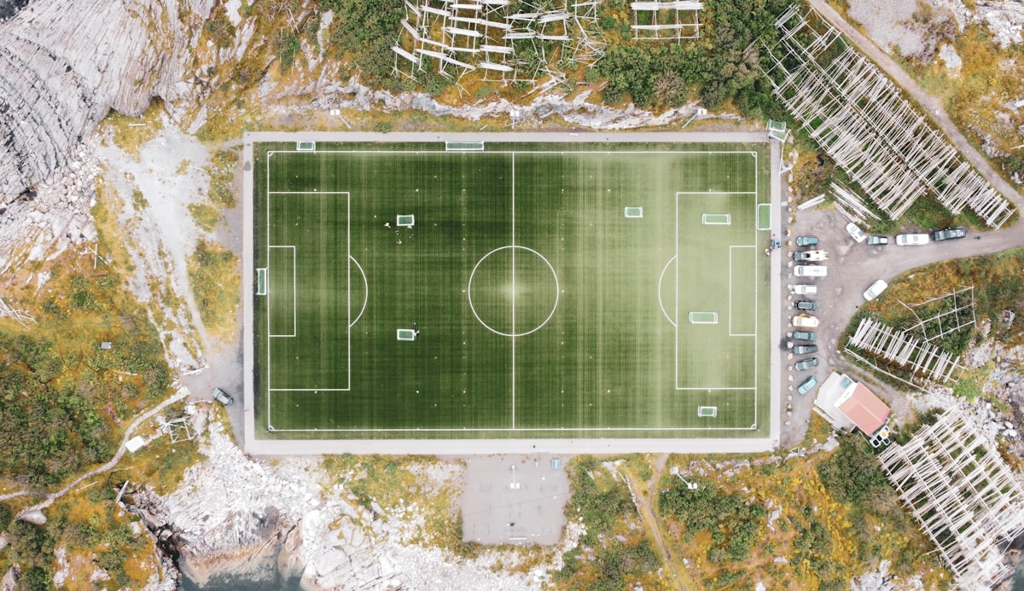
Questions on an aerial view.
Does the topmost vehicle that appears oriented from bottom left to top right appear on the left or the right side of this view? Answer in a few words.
right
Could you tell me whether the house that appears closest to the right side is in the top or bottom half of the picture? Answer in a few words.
bottom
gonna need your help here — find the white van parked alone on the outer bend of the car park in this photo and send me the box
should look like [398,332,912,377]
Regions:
[864,279,892,301]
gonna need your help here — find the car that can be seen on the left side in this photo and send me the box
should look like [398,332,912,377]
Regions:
[210,388,233,407]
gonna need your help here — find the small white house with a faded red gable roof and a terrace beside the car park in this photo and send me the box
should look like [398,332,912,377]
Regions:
[812,372,891,435]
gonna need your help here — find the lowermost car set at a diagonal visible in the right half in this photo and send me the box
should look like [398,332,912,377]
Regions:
[797,376,820,395]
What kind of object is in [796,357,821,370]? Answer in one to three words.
vehicle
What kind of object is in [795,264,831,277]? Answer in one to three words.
vehicle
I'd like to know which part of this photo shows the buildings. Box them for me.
[812,372,891,435]
[119,436,145,456]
